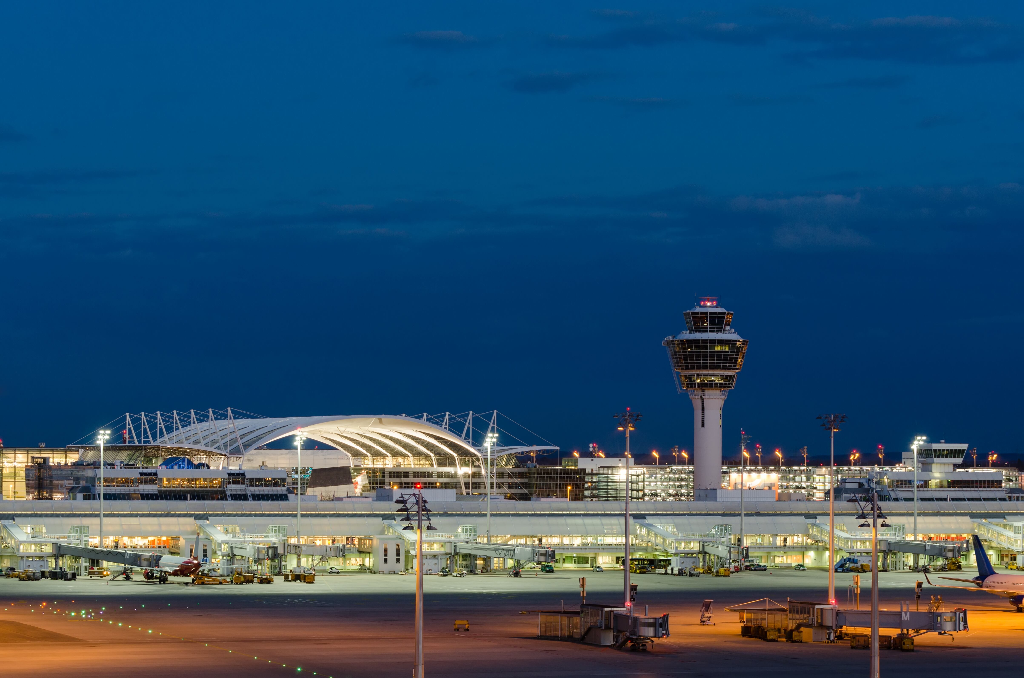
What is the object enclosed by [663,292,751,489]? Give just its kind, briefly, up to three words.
building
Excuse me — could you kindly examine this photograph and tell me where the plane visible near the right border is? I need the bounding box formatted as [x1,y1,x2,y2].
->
[942,534,1024,598]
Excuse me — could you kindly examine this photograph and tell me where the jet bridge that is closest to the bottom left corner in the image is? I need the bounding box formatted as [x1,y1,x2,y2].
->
[79,547,162,578]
